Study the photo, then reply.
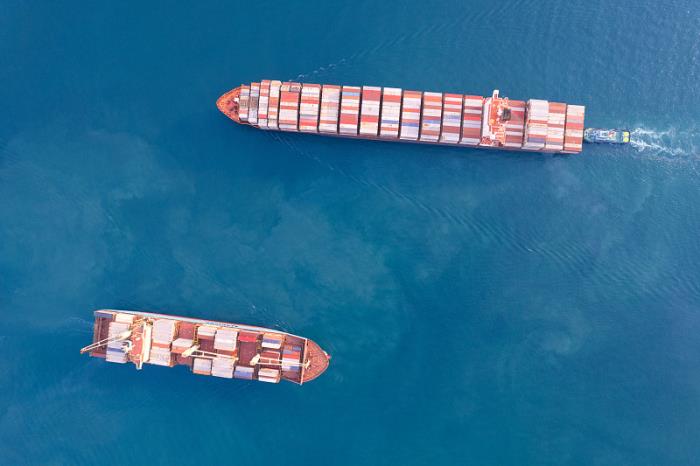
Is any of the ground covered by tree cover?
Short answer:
No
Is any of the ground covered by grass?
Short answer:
No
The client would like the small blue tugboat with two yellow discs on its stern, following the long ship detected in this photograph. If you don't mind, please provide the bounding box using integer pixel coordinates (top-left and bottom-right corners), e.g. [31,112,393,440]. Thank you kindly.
[584,128,630,145]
